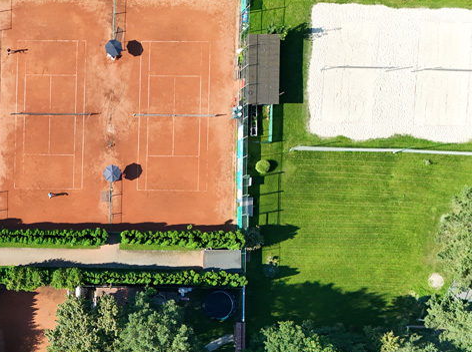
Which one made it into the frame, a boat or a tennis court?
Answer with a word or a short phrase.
tennis court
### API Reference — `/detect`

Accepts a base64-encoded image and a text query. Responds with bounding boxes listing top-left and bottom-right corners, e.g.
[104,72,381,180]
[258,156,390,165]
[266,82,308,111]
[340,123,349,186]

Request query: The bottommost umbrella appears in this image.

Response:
[104,166,120,183]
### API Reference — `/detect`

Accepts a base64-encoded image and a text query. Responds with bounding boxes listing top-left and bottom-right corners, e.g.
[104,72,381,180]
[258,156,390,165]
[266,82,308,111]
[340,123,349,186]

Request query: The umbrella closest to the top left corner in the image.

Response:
[105,40,122,58]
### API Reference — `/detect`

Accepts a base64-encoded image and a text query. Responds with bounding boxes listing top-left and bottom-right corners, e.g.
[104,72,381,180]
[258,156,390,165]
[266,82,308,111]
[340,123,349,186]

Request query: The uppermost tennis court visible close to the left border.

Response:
[0,0,114,241]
